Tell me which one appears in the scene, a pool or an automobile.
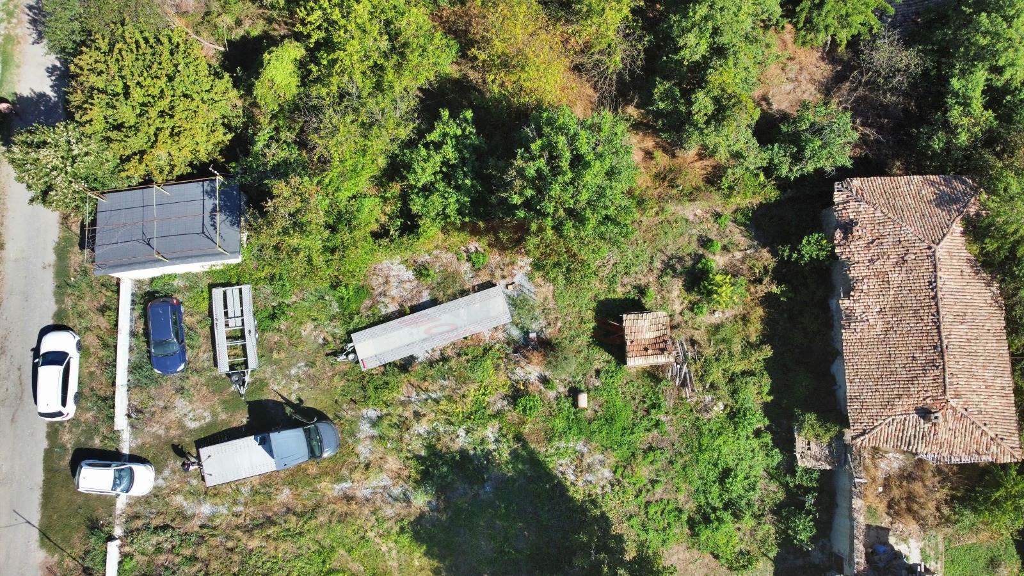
automobile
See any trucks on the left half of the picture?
Yes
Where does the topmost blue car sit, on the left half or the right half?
left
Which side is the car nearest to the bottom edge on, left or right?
left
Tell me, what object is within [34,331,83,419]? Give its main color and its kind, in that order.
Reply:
white car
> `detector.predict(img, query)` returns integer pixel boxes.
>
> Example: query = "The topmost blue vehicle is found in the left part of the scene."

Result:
[144,297,189,376]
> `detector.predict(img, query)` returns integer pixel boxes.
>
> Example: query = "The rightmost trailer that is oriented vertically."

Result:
[211,283,263,402]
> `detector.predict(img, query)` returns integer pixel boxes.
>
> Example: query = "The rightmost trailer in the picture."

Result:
[324,286,512,371]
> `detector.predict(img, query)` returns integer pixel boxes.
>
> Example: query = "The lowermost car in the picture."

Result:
[73,457,158,501]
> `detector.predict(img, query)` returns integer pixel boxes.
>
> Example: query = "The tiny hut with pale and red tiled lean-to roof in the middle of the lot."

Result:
[608,310,677,368]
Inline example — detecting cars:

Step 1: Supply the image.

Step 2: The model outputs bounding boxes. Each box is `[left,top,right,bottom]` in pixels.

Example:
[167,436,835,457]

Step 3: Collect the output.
[144,297,189,376]
[34,331,83,419]
[73,457,158,501]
